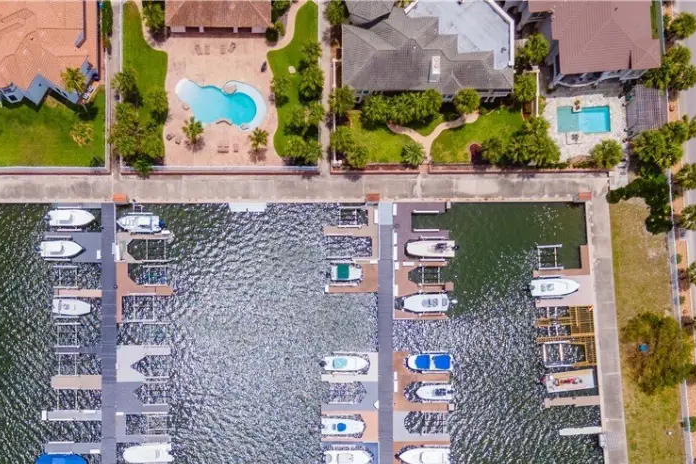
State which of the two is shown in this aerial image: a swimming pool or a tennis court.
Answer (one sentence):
This aerial view contains a swimming pool.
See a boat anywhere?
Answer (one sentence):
Yes, I can see a boat in this picture.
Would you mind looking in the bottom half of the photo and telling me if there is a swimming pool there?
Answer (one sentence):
No, there's no swimming pool to be seen in the bottom half of the photo.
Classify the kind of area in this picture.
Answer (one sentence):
It's a residential area.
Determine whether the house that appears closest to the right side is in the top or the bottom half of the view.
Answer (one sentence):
Seen from above, the house that appears closest to the right side lies in the top half of the view.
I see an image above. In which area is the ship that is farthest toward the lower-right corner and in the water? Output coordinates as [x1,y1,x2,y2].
[543,371,594,391]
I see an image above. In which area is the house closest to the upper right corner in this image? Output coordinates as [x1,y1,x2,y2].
[518,0,661,93]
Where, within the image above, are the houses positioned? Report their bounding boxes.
[341,0,515,106]
[165,0,272,35]
[0,0,102,108]
[518,0,661,93]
